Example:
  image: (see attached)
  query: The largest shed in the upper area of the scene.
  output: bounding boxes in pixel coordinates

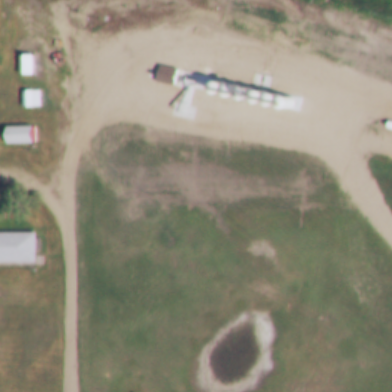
[3,125,38,148]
